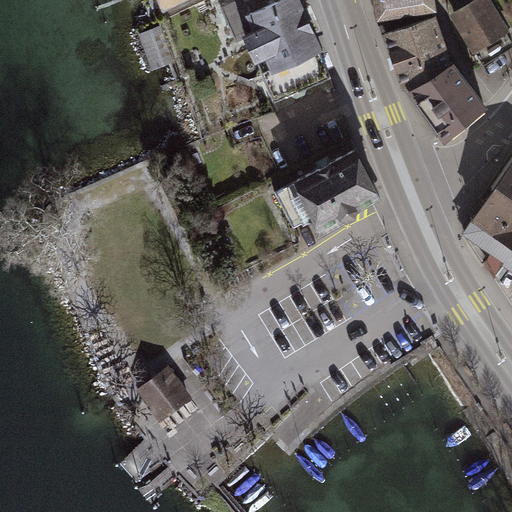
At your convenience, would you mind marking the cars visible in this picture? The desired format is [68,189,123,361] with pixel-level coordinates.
[350,76,363,100]
[346,324,370,341]
[306,314,325,338]
[374,345,391,366]
[233,126,255,139]
[396,330,413,351]
[327,119,344,144]
[367,125,382,149]
[270,148,288,169]
[486,54,509,74]
[320,312,337,334]
[314,282,333,306]
[358,350,377,372]
[332,371,350,395]
[344,262,363,286]
[292,292,310,315]
[358,284,376,308]
[406,322,422,344]
[276,336,294,358]
[329,303,346,324]
[273,307,290,328]
[400,291,424,309]
[300,226,316,249]
[379,274,396,296]
[386,340,402,362]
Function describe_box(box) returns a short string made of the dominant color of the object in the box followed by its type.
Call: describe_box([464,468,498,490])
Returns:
blue boat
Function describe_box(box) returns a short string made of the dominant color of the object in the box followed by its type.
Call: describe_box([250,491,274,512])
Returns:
white boat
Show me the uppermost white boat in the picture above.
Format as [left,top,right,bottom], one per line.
[442,426,472,452]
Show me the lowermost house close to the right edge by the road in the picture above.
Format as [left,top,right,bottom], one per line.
[464,160,512,270]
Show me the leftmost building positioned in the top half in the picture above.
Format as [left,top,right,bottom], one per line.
[139,25,174,70]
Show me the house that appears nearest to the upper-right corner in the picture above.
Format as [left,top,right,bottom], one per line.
[450,0,510,65]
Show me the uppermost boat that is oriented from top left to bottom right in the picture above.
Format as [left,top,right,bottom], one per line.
[342,414,366,449]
